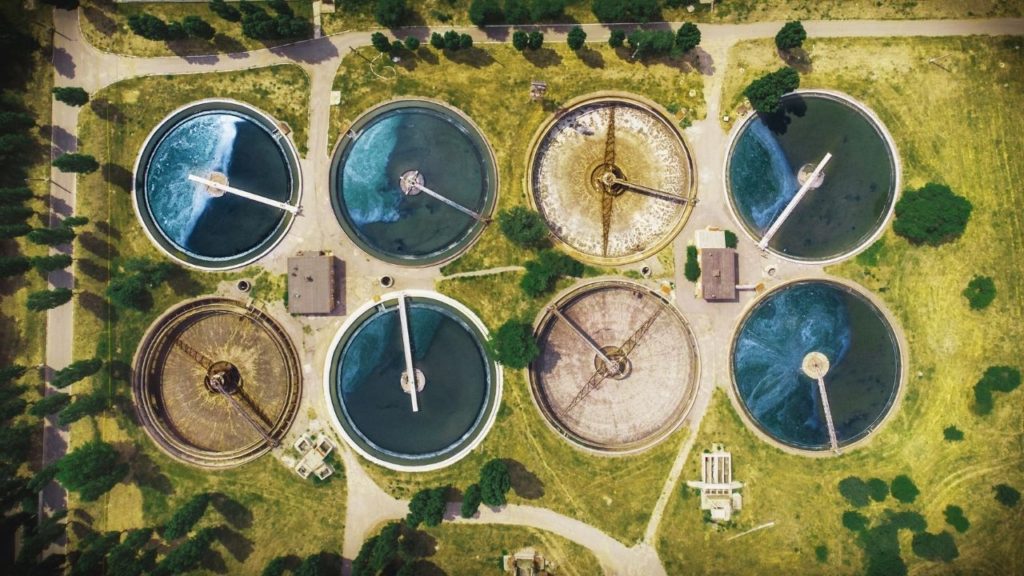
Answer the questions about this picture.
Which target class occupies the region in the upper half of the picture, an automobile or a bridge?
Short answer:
bridge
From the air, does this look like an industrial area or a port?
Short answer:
industrial area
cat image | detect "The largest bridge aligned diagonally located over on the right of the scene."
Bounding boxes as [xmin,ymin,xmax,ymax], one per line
[757,152,832,250]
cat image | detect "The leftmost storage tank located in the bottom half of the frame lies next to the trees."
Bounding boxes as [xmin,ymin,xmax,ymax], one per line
[132,296,304,468]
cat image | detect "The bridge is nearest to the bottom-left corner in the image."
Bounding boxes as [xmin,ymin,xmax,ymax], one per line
[214,382,279,449]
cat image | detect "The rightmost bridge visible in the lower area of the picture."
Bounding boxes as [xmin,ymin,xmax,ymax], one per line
[818,370,842,453]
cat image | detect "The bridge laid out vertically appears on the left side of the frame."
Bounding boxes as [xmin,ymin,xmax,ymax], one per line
[397,293,420,413]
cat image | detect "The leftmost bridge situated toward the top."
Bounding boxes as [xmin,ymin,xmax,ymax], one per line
[190,173,301,216]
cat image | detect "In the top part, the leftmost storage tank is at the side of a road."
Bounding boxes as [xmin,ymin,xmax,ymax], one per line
[132,99,304,270]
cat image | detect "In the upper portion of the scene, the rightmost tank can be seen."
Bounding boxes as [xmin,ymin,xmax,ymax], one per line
[722,88,900,265]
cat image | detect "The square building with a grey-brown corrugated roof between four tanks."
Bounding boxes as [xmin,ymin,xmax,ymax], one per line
[288,251,335,313]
